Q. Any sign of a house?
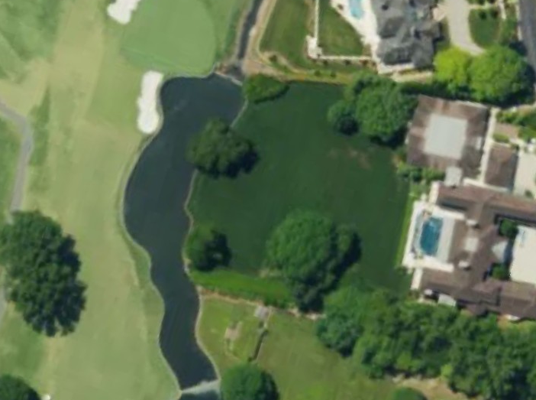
Yes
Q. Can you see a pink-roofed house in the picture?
No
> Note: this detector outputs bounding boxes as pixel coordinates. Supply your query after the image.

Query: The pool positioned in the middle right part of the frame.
[419,216,443,256]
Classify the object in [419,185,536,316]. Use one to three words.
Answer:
house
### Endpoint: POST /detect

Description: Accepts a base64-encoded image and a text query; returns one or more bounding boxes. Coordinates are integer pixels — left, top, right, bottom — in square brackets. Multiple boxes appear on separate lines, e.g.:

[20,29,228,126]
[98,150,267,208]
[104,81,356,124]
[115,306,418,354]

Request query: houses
[485,143,520,190]
[419,185,536,316]
[407,96,488,186]
[371,0,442,70]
